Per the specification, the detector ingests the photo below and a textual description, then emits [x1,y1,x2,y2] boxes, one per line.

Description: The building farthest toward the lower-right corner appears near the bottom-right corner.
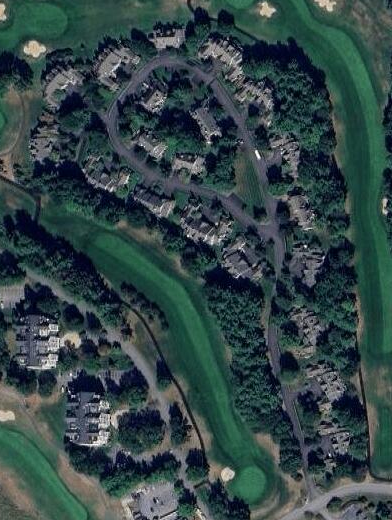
[316,422,354,464]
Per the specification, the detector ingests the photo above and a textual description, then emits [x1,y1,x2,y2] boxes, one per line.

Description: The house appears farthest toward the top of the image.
[148,25,187,52]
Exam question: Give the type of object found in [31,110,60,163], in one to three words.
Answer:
house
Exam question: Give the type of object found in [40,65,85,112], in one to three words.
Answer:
house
